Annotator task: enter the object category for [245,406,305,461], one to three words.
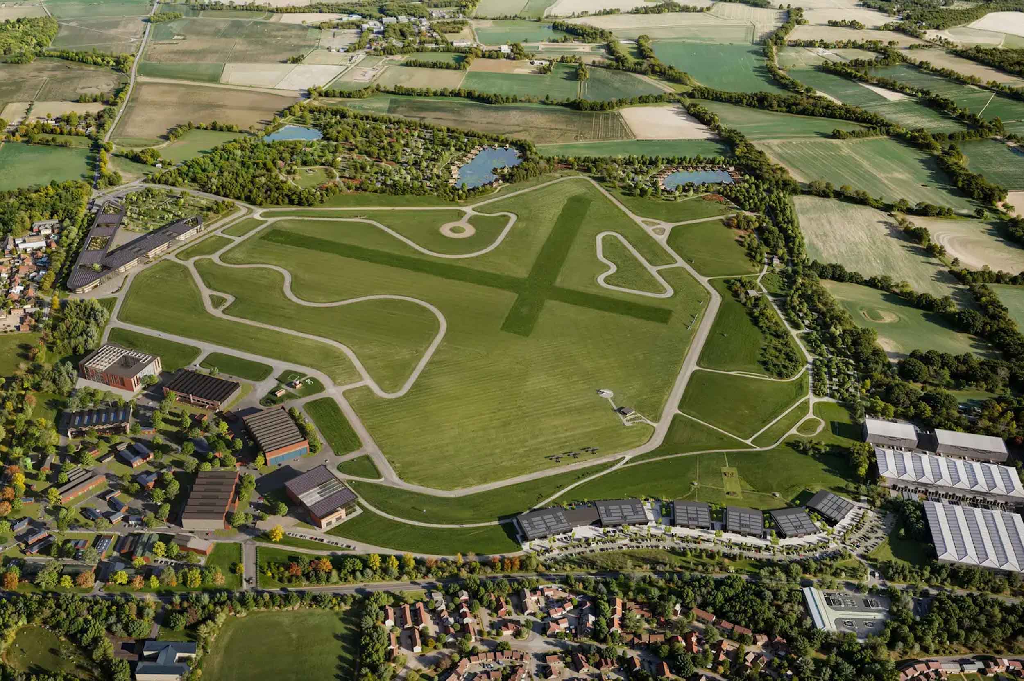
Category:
hangar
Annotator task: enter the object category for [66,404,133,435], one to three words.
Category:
building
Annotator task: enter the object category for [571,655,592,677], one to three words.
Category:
house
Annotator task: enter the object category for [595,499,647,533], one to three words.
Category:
shed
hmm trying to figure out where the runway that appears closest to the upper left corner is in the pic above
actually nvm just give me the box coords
[259,229,520,288]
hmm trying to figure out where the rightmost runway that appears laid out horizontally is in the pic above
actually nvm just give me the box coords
[503,274,673,324]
